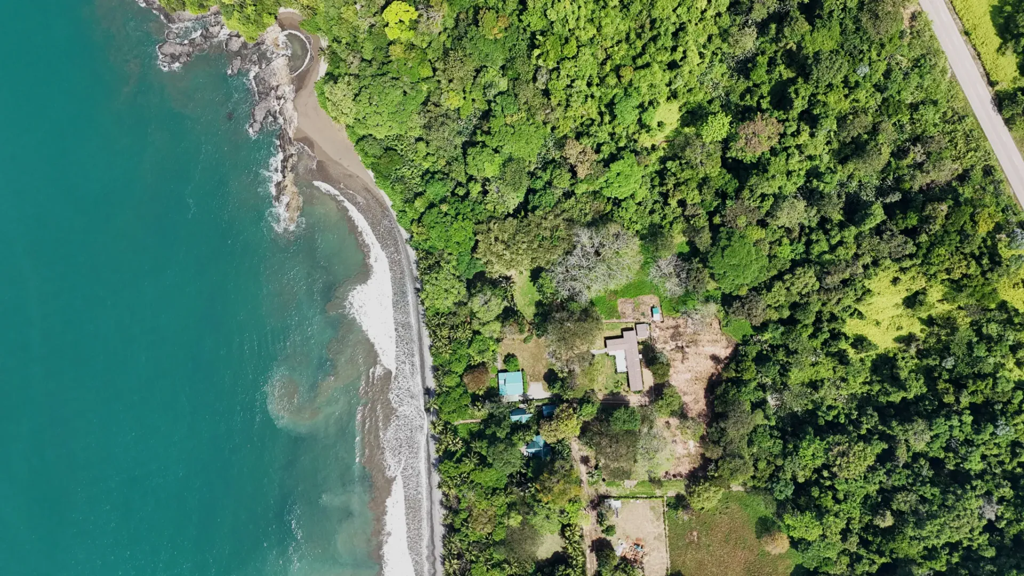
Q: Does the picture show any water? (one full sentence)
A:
Yes, there's water in this view.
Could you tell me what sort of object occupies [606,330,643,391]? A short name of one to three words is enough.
house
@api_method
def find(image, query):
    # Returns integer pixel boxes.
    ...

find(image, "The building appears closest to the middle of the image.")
[498,372,523,402]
